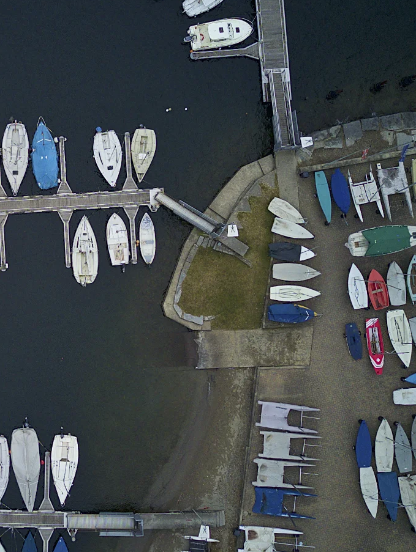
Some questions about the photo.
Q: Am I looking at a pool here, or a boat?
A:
boat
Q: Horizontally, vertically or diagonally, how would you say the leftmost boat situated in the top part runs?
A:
vertically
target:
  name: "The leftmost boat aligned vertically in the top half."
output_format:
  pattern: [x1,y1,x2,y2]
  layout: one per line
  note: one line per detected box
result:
[2,110,29,208]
